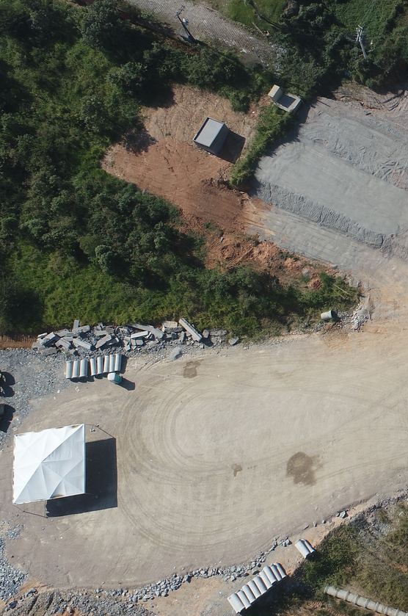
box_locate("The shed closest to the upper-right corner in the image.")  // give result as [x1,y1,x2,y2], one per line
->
[268,85,300,108]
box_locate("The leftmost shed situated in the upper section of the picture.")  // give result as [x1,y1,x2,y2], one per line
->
[194,117,233,154]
